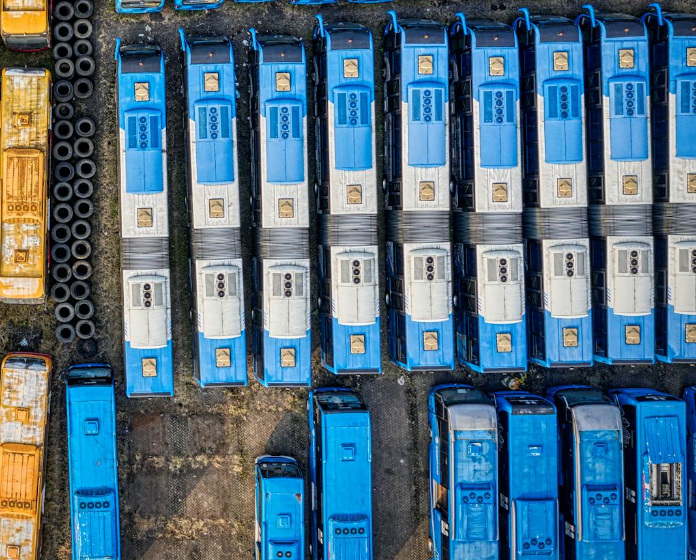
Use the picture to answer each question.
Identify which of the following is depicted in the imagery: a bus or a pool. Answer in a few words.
bus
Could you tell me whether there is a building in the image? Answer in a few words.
No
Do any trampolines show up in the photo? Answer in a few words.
No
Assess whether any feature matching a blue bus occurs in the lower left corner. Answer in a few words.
Yes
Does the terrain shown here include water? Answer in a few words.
No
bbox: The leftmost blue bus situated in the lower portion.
[62,364,121,560]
